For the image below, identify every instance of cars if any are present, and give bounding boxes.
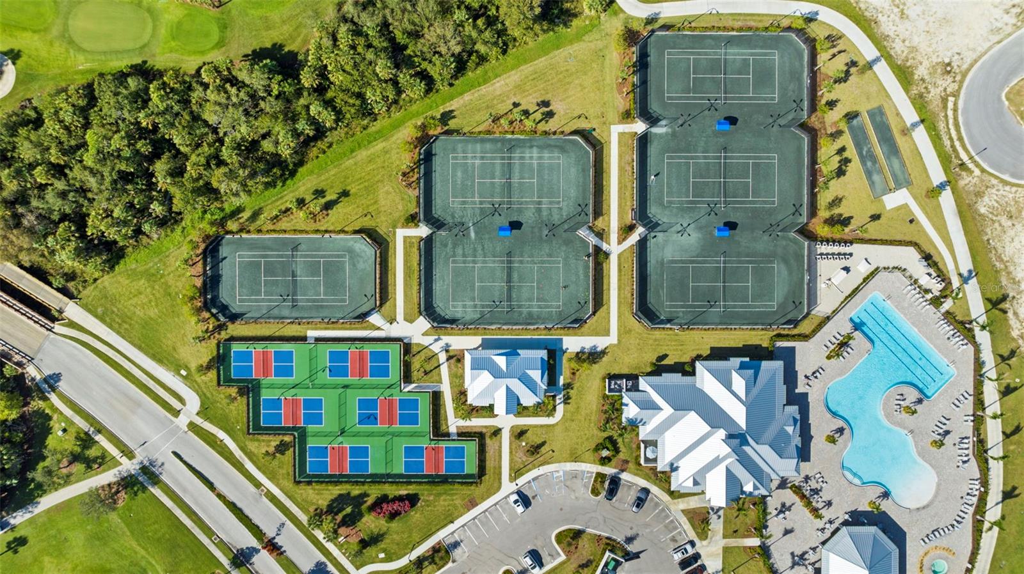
[686,563,708,574]
[510,491,524,514]
[671,541,693,561]
[632,489,648,511]
[605,477,620,501]
[522,551,541,573]
[679,552,701,572]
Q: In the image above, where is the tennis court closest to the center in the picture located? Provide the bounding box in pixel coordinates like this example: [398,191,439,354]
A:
[421,231,591,326]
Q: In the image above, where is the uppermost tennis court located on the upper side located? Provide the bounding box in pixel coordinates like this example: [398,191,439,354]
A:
[639,34,806,127]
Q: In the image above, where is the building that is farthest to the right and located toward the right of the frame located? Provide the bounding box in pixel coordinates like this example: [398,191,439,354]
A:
[819,525,898,574]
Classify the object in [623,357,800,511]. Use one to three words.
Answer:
building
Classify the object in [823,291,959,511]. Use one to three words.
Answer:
swimming pool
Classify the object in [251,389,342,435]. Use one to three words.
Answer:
sports court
